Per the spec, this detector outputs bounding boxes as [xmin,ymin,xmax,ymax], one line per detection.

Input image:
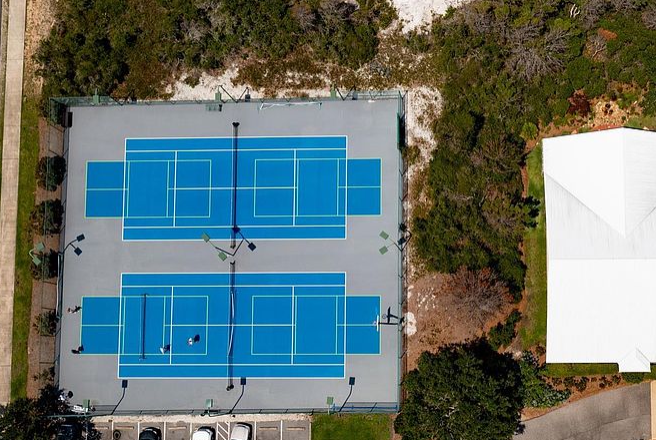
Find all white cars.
[193,427,214,440]
[231,424,251,440]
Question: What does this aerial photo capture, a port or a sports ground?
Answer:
sports ground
